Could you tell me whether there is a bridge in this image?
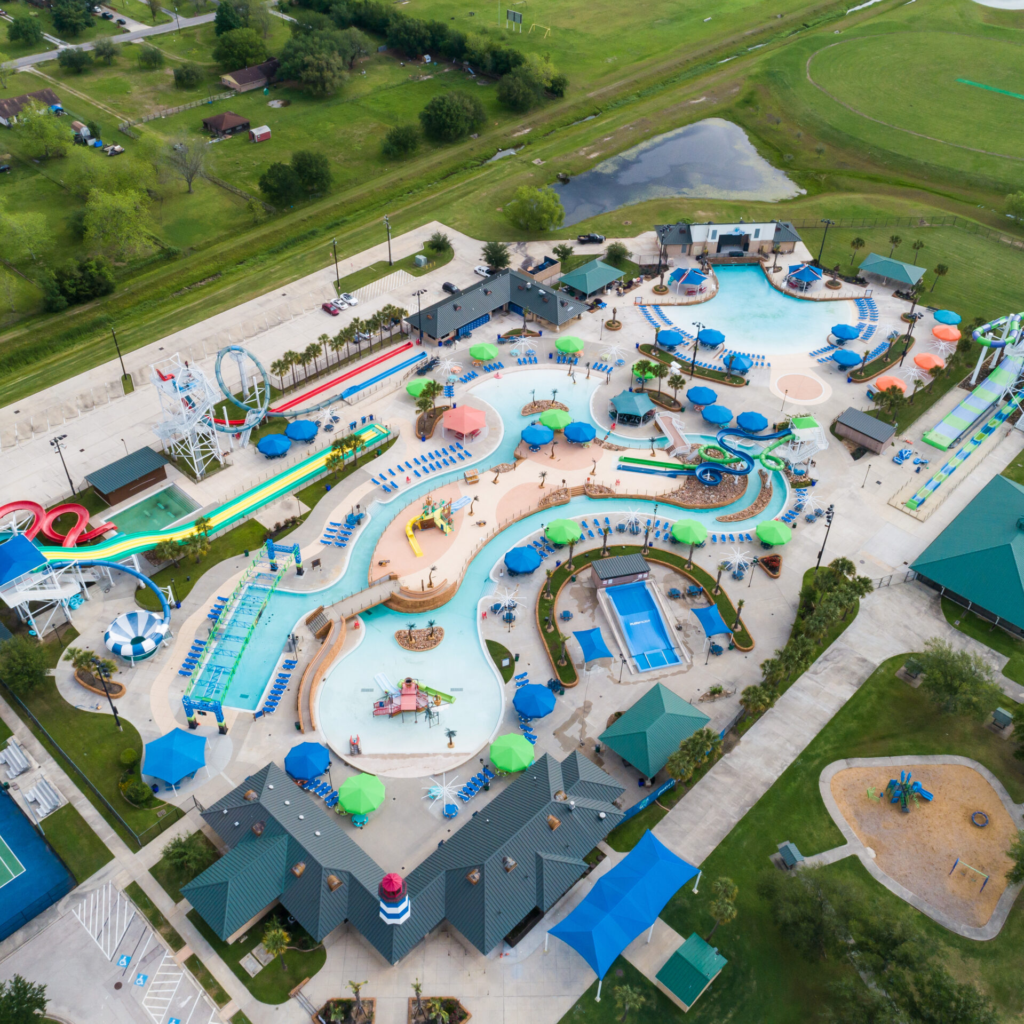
Yes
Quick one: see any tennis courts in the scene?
Yes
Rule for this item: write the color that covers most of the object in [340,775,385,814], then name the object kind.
green umbrella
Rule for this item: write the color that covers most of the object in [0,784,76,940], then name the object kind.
blue tennis court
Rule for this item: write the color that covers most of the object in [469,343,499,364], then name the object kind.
green umbrella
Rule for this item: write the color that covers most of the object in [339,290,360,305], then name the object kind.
white car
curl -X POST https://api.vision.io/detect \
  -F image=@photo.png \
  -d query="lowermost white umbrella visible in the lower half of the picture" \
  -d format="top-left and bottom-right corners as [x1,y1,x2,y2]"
[420,771,468,812]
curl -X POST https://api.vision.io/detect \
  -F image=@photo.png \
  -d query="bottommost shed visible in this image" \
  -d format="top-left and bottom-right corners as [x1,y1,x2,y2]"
[655,933,728,1014]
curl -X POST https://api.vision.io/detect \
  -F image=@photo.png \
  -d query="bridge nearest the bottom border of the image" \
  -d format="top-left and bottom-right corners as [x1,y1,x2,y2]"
[322,576,457,622]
